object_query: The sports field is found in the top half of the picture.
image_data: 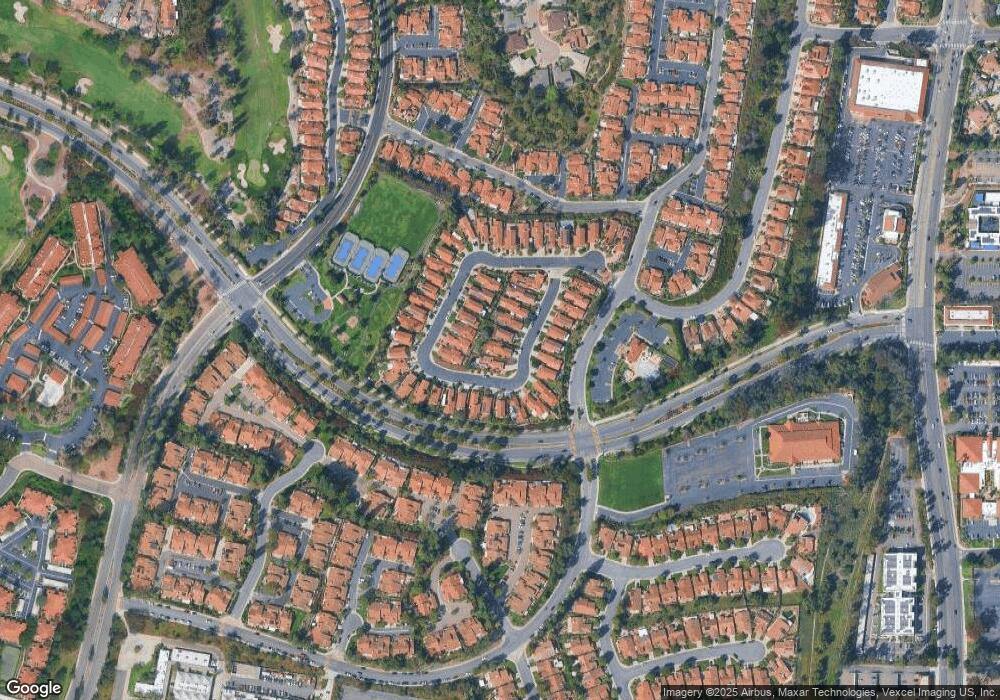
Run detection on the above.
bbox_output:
[348,173,438,255]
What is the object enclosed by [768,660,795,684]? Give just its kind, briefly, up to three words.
house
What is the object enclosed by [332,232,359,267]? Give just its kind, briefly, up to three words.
tennis court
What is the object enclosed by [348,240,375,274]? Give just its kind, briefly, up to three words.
tennis court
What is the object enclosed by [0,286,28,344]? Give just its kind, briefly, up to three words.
building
